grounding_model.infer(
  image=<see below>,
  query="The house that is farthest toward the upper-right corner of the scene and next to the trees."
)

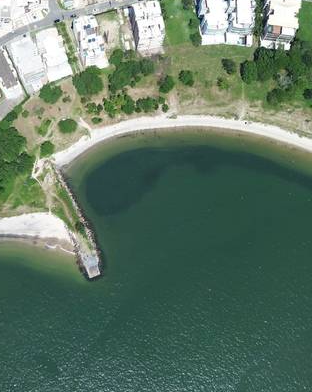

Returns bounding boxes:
[257,0,302,51]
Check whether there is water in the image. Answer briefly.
Yes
